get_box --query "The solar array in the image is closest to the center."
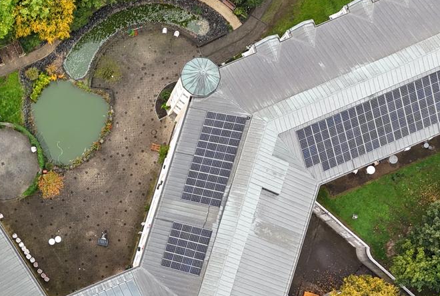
[181,112,246,206]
